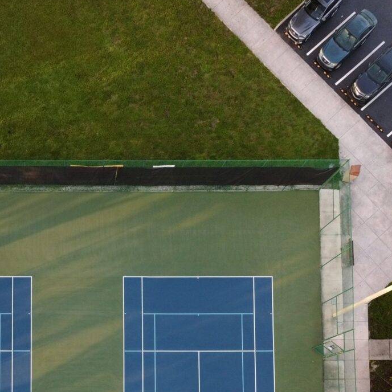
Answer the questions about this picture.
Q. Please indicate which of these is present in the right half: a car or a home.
car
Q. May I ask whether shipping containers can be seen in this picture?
No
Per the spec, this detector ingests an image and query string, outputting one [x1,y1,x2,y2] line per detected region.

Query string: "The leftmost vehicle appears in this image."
[286,0,350,46]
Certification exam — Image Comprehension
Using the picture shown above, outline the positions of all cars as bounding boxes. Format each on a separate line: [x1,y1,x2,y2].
[351,51,392,109]
[318,11,383,74]
[286,0,350,46]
